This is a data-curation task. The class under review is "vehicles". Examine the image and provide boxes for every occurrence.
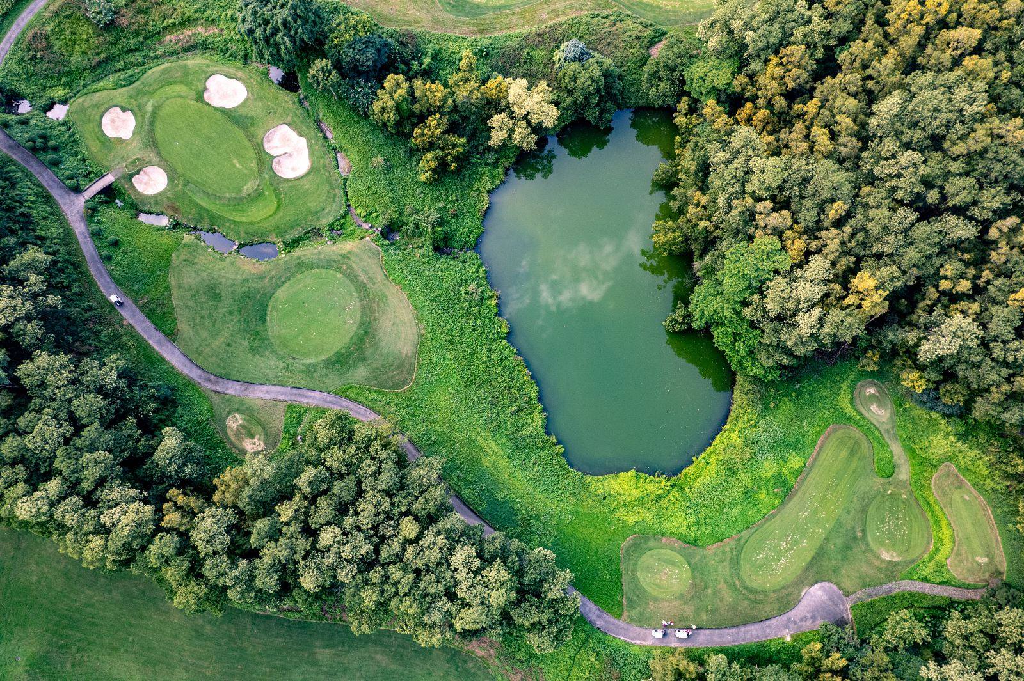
[651,630,663,638]
[110,295,122,305]
[674,630,687,638]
